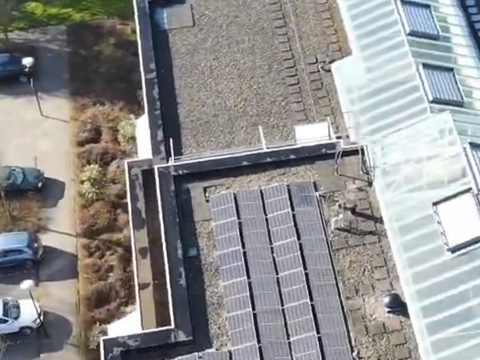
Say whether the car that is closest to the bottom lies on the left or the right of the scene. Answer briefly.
left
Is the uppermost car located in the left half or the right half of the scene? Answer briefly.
left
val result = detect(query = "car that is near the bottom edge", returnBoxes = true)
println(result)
[0,304,49,345]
